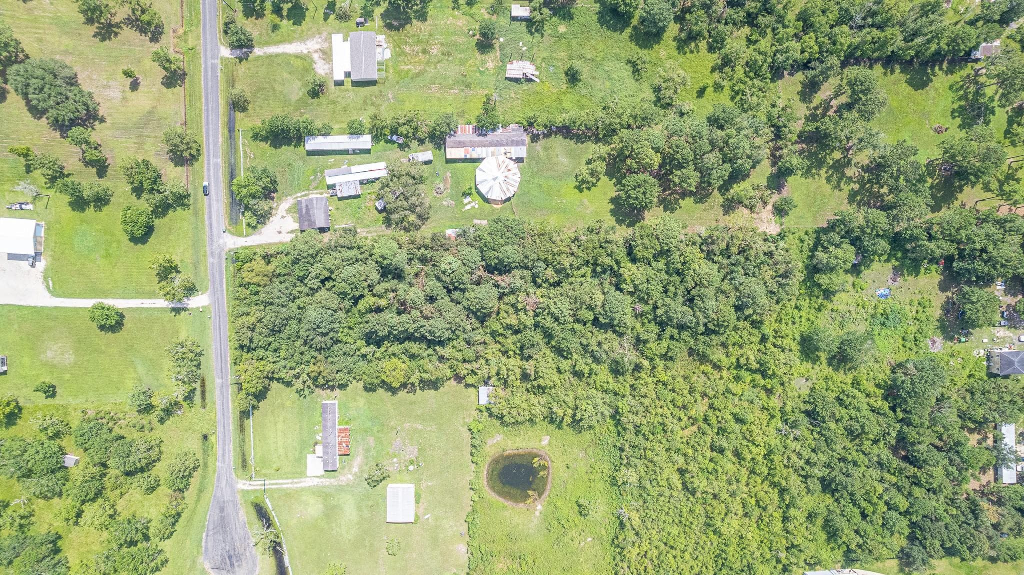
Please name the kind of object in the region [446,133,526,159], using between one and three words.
barn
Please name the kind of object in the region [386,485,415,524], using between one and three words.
building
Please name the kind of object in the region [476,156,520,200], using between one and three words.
shed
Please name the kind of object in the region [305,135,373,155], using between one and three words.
house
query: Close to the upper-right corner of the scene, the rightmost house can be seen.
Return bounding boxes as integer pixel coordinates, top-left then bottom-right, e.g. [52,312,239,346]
[970,41,1001,59]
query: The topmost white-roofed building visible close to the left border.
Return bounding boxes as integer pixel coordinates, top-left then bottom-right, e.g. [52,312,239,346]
[0,218,46,254]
